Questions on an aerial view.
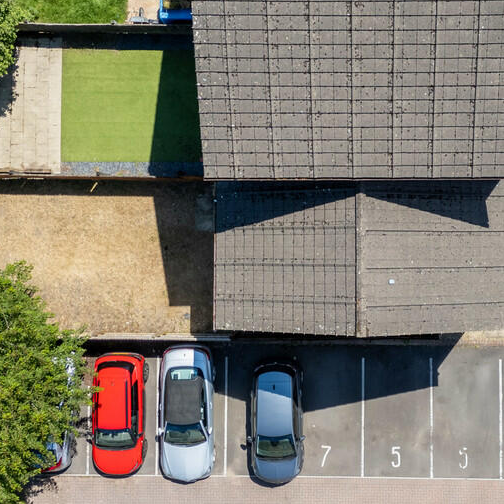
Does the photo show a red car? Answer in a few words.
Yes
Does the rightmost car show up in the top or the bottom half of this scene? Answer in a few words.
bottom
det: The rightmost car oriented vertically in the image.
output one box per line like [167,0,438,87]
[246,359,309,486]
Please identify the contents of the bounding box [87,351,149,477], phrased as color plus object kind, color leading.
red car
